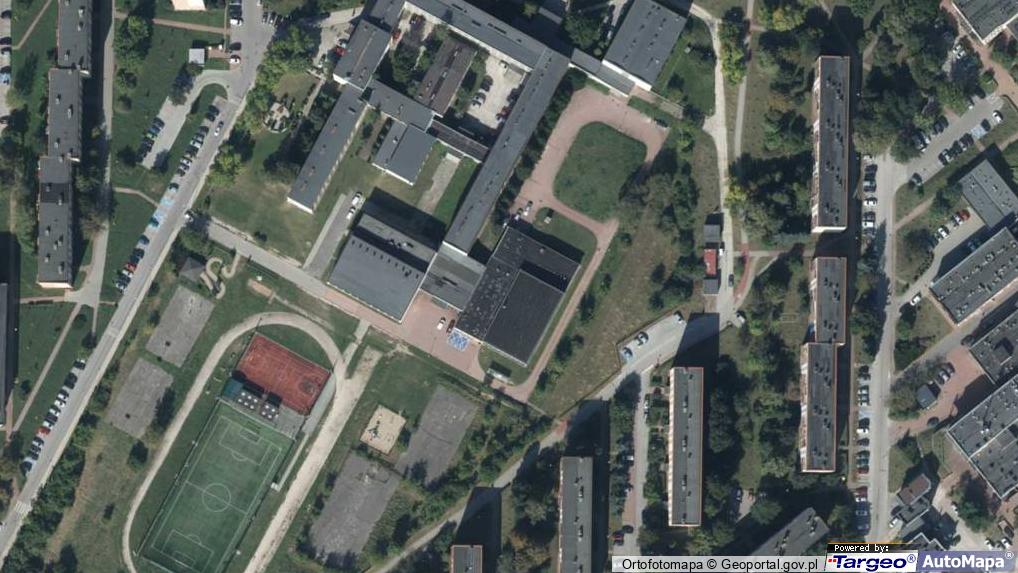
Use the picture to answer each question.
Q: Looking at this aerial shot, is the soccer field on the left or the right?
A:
left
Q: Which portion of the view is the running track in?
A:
bottom left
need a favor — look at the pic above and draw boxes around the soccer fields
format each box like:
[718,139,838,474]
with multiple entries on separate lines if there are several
[139,400,295,573]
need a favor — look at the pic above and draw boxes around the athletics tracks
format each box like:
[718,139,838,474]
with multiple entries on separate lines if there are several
[125,313,383,573]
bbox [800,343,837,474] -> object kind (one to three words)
building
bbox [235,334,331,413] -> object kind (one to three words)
sports court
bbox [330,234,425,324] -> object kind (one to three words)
building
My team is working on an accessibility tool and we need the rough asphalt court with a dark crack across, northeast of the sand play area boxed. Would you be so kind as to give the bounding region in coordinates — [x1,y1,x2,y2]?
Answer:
[396,386,478,485]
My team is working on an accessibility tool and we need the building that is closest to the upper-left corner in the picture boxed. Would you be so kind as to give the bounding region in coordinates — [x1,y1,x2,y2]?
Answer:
[58,0,91,75]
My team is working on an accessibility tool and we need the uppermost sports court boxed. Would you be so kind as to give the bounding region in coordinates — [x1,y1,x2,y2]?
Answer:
[146,286,214,367]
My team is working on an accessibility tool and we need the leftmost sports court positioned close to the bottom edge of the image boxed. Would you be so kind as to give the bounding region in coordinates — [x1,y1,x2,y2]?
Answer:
[311,450,399,559]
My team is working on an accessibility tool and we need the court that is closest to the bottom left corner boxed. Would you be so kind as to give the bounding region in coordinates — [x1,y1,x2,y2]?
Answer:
[106,358,173,438]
